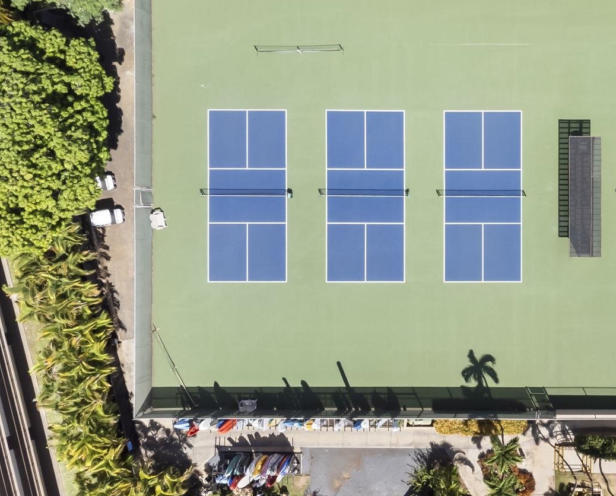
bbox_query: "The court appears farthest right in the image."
[444,110,522,282]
